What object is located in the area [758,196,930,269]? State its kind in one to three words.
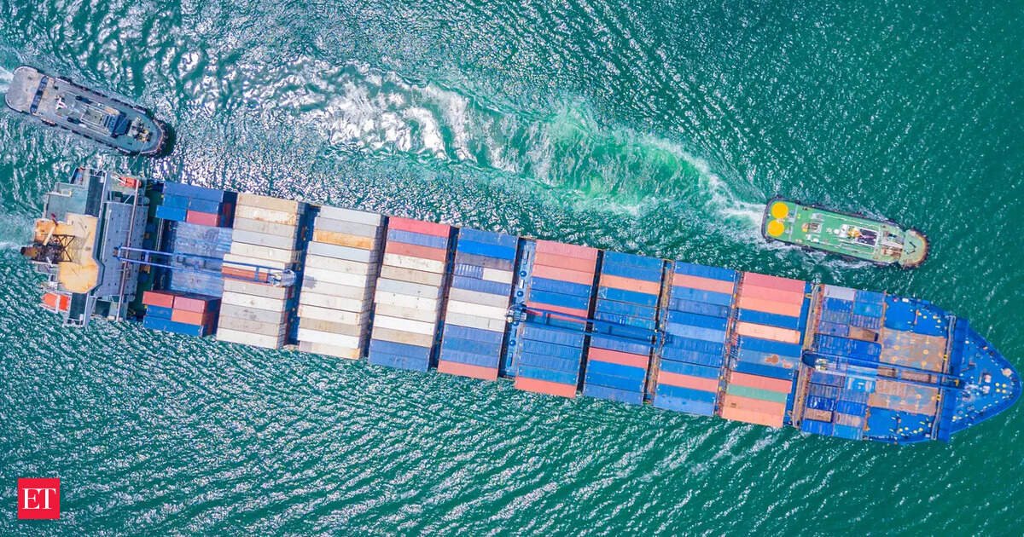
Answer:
boat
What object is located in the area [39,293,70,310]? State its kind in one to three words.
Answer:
boat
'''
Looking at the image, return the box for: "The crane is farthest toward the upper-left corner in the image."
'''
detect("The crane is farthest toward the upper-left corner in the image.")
[117,245,309,286]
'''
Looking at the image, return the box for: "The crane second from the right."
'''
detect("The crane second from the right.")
[505,301,669,341]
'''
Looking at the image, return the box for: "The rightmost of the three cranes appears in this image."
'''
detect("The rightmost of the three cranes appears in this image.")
[794,349,984,391]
